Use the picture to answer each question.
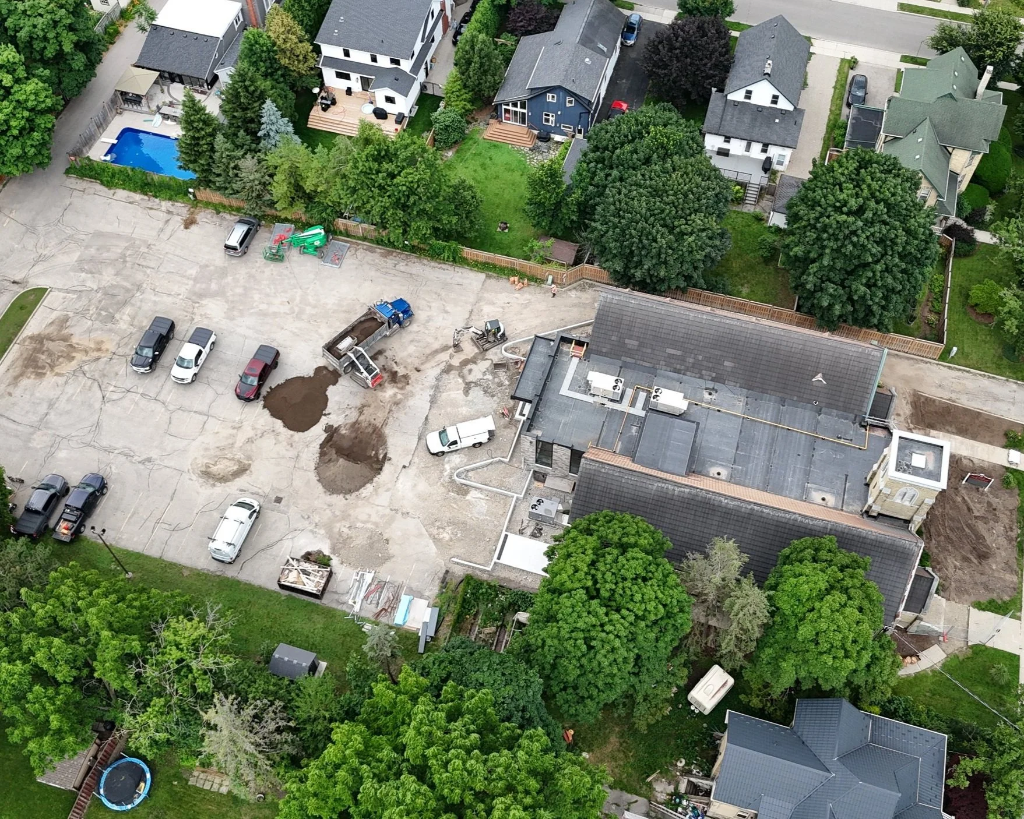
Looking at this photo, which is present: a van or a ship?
van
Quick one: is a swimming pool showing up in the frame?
Yes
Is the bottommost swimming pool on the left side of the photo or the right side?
left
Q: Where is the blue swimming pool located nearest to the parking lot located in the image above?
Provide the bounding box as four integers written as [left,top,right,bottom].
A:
[98,126,197,184]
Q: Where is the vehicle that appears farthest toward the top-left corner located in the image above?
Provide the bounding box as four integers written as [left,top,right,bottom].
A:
[222,213,262,257]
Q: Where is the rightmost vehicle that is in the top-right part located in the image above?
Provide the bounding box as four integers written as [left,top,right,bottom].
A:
[847,68,871,103]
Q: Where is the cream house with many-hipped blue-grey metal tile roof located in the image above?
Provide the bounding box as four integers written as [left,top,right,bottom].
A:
[710,695,948,819]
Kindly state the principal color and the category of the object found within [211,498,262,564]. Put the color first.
white van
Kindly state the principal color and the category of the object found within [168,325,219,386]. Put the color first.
white truck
